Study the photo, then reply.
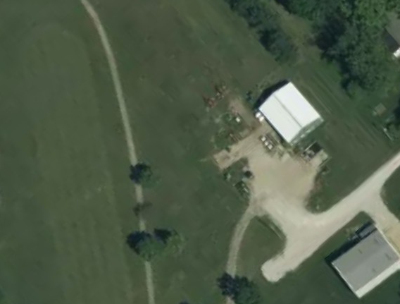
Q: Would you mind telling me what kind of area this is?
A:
golf course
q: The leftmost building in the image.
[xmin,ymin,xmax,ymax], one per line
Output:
[260,83,321,145]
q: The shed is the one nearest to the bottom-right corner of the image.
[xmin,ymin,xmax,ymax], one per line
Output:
[333,224,400,298]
